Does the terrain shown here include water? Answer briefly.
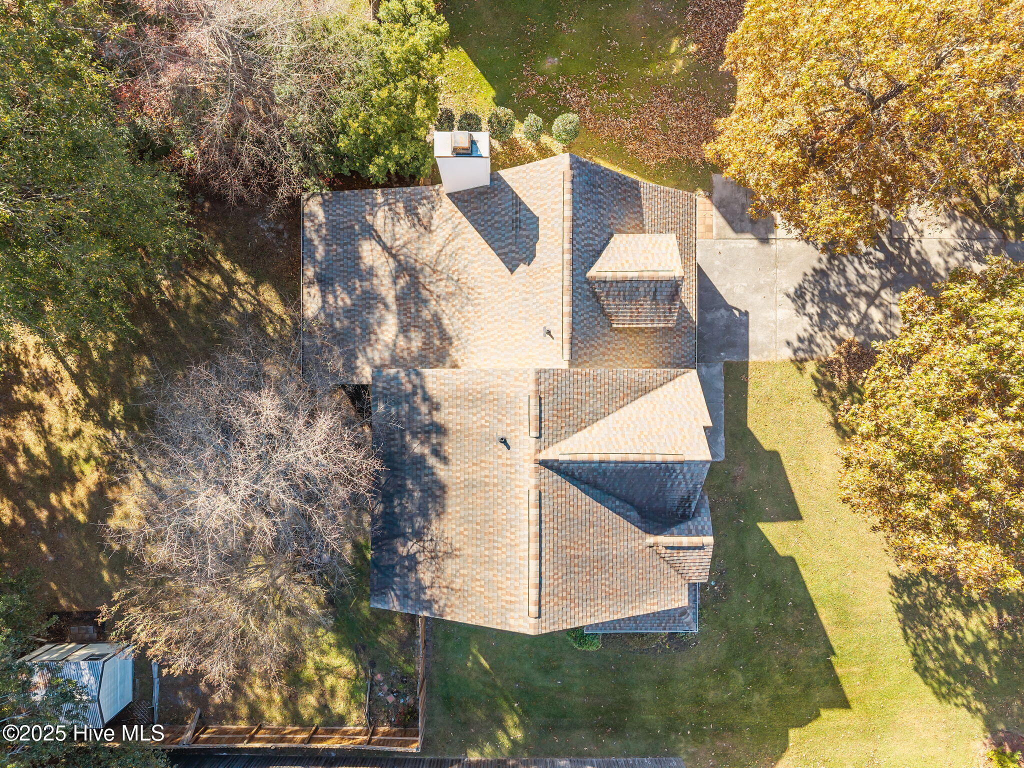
No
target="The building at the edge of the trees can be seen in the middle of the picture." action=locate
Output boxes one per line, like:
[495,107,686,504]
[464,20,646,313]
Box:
[301,130,714,635]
